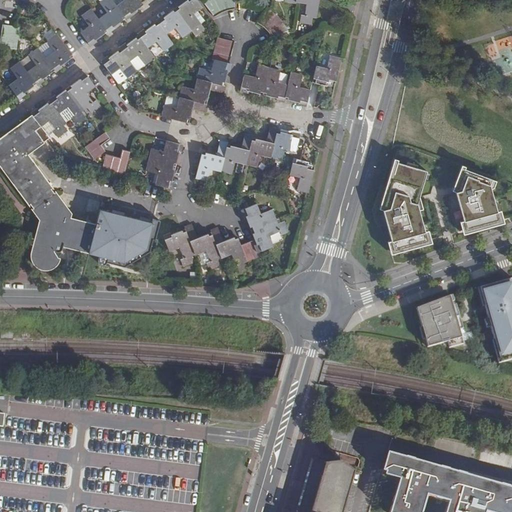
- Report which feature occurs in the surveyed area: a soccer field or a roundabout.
roundabout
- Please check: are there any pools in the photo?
No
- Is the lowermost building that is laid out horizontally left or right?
right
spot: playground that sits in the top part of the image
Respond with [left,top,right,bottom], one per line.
[486,36,512,72]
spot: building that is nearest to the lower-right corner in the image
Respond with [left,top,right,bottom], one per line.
[382,446,512,512]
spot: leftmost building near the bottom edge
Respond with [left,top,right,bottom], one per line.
[311,449,358,512]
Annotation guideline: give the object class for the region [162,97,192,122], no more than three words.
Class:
house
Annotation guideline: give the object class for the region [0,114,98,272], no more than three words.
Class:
building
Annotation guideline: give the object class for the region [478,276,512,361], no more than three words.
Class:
building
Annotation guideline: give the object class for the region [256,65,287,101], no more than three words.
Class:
house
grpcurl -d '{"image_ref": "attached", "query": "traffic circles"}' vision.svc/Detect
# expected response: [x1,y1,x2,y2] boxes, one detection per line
[271,258,363,354]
